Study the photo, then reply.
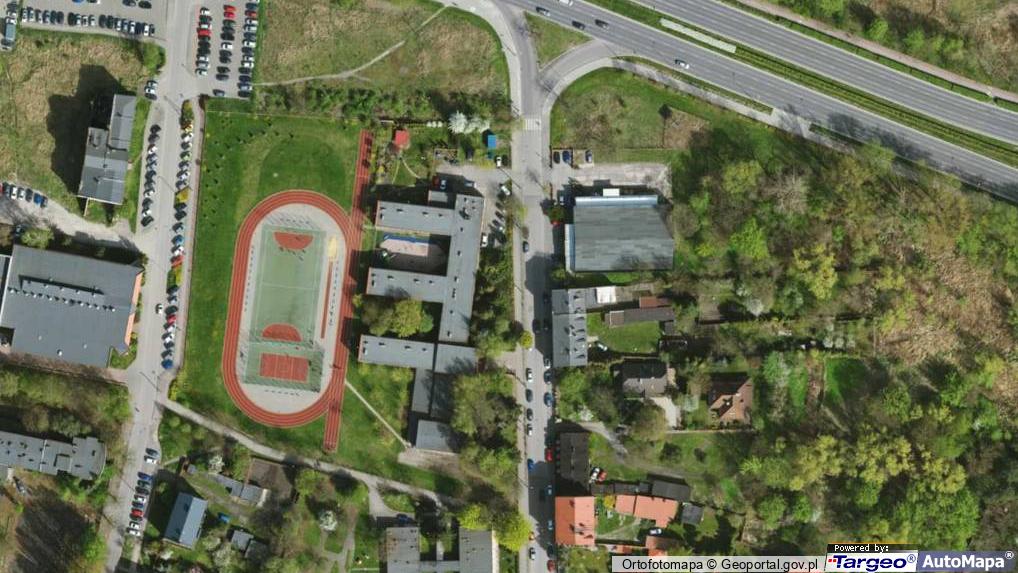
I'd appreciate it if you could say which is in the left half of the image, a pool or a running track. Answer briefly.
running track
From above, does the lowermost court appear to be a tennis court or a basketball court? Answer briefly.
basketball court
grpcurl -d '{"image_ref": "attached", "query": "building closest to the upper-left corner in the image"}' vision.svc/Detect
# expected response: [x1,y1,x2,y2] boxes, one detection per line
[79,95,140,205]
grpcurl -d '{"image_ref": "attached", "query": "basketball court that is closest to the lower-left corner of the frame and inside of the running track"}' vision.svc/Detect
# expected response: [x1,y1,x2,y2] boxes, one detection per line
[244,343,324,392]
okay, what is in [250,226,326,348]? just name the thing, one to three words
sports court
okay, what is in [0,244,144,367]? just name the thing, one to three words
building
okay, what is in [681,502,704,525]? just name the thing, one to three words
shed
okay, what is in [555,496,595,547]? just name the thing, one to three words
house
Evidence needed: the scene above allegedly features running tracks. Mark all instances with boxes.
[222,128,374,454]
